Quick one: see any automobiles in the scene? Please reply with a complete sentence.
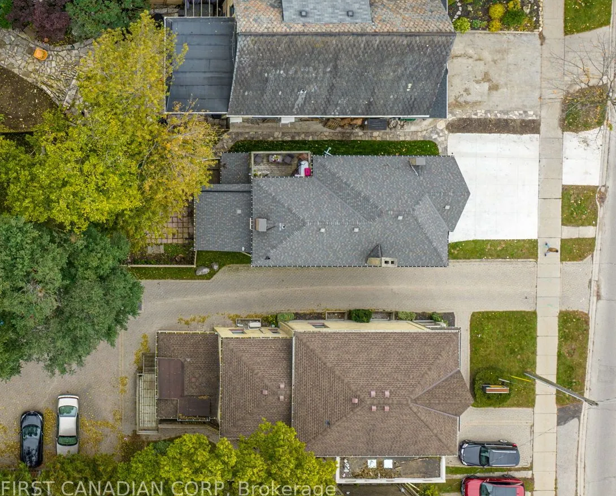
Yes, the image includes an automobile.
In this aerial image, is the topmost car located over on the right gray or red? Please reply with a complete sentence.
The topmost car located over on the right looks gray in the image.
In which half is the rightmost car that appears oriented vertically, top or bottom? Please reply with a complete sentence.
The bottom half of the photo is where the rightmost car that appears oriented vertically is.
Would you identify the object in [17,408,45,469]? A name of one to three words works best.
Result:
car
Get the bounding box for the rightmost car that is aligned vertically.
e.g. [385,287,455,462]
[53,393,83,458]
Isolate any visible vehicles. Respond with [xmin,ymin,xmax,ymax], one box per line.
[17,408,45,469]
[459,472,524,496]
[457,437,521,469]
[53,393,83,458]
